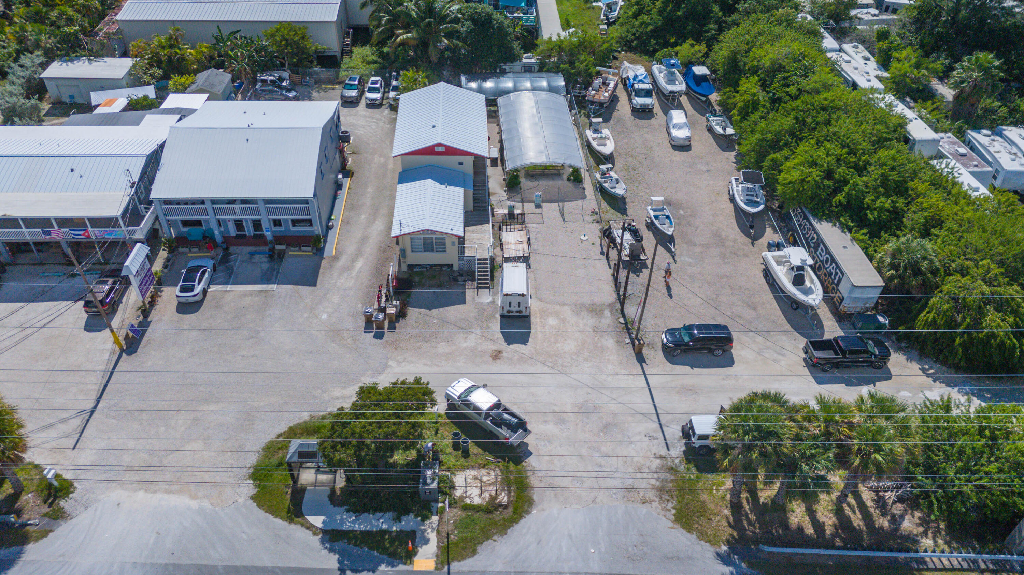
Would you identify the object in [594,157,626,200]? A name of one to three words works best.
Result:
boat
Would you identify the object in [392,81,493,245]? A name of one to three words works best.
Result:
house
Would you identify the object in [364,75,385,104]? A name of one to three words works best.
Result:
car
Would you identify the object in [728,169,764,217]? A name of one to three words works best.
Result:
boat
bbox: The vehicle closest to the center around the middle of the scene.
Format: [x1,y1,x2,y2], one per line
[497,269,534,318]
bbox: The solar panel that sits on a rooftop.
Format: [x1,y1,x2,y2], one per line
[295,447,323,463]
